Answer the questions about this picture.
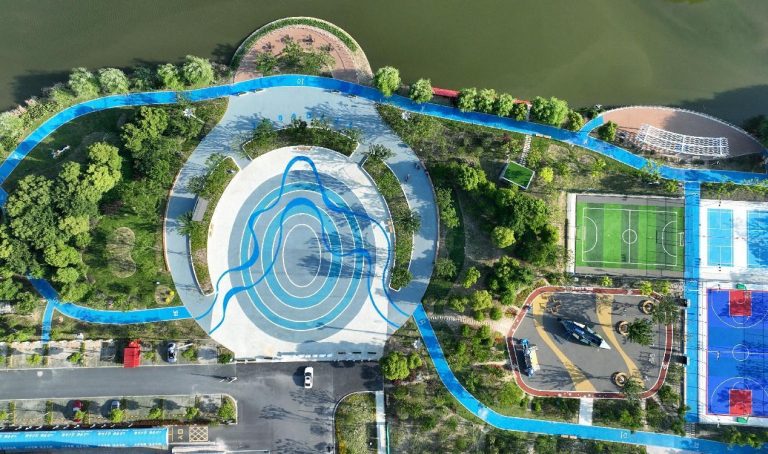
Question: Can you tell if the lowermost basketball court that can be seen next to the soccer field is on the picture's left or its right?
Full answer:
It is on the right.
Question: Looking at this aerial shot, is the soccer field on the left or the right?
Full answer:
The soccer field is on the right side of the image.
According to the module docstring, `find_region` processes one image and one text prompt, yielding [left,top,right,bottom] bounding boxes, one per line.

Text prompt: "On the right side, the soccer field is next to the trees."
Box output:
[577,203,685,269]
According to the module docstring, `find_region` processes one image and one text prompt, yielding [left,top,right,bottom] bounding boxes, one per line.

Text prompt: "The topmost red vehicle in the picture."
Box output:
[124,341,140,371]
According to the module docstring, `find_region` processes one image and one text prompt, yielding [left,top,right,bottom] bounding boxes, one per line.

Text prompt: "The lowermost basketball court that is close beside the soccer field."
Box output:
[705,289,768,416]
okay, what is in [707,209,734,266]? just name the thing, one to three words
sports court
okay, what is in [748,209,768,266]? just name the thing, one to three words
sports court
